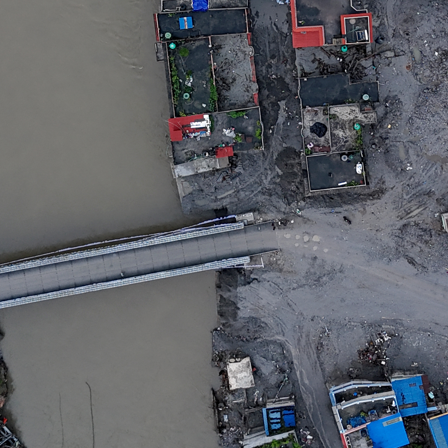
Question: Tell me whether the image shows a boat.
No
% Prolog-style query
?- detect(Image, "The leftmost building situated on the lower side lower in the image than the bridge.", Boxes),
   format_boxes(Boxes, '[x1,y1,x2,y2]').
[226,352,255,391]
